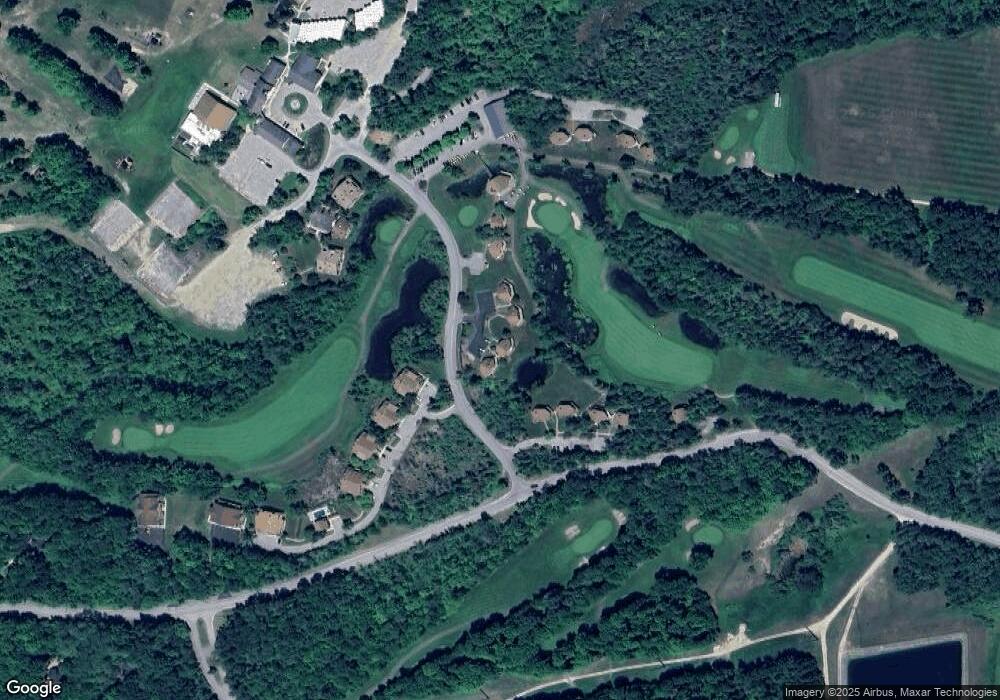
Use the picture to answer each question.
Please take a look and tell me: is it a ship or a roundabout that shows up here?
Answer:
roundabout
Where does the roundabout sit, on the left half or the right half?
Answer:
left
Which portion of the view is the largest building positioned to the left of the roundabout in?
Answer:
top left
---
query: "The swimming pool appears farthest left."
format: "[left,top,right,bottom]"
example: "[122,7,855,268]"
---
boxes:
[308,507,330,522]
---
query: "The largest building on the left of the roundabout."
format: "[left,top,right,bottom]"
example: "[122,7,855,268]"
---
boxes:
[172,83,239,157]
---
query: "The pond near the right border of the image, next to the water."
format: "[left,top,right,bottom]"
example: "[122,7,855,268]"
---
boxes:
[838,633,969,700]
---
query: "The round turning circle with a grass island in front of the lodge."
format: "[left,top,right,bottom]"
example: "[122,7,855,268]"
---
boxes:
[264,81,343,140]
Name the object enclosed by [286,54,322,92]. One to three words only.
building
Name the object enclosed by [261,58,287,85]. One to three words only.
building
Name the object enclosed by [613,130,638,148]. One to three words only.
house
